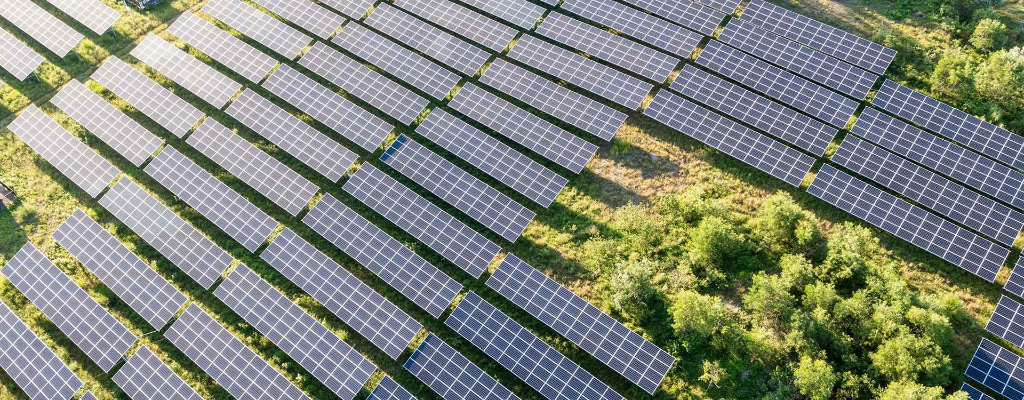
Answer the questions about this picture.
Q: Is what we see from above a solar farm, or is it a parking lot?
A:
solar farm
